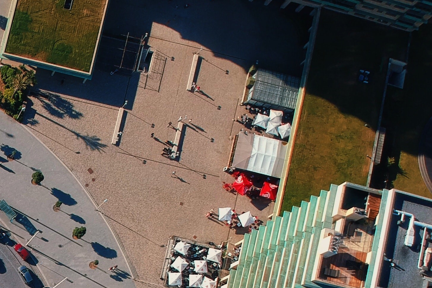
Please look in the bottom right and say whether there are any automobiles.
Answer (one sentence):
No, I can find no automobile in the bottom right.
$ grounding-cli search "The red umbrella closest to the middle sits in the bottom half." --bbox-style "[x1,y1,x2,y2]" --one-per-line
[231,170,254,190]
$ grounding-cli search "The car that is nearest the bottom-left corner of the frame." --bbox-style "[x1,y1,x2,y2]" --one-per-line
[16,265,33,286]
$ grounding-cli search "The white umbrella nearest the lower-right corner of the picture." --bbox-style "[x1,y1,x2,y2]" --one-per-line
[238,209,257,228]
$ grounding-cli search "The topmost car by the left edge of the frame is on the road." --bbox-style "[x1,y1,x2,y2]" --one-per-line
[14,243,30,262]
